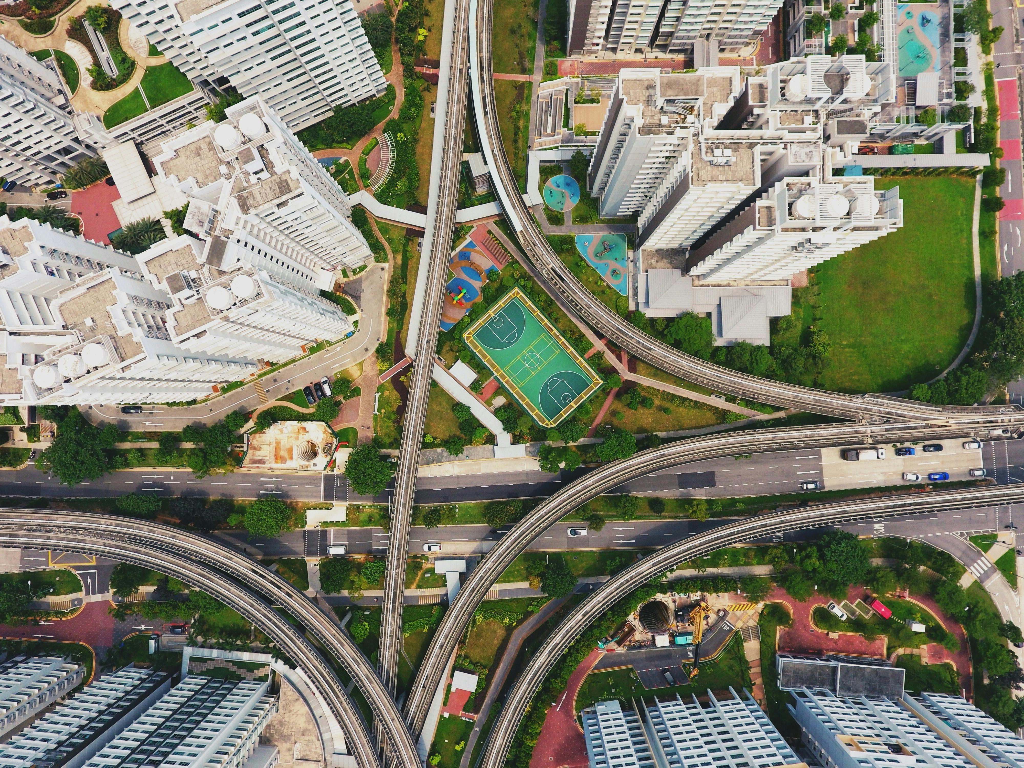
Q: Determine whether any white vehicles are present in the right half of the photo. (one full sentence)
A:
Yes, there is a white vehicle in the right half of the photo.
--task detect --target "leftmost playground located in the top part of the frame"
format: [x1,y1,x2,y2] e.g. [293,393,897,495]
[441,236,503,332]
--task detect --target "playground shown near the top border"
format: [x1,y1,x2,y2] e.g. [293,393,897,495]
[897,4,940,77]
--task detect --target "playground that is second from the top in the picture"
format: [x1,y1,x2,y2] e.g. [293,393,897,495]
[543,174,580,212]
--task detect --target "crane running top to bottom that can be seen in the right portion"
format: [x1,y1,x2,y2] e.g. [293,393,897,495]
[683,599,717,676]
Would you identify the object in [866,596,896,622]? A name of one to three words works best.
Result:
truck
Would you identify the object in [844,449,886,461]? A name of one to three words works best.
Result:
vehicle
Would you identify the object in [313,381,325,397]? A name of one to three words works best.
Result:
vehicle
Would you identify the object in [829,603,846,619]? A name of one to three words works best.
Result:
car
